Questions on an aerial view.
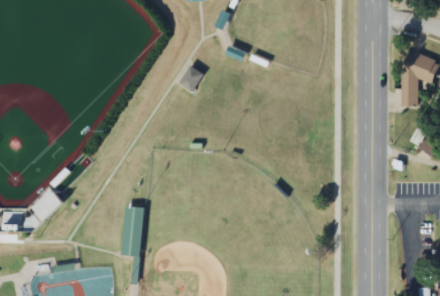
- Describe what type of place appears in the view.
sports ground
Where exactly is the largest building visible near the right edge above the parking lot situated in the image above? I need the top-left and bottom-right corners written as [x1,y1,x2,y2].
[402,58,440,106]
